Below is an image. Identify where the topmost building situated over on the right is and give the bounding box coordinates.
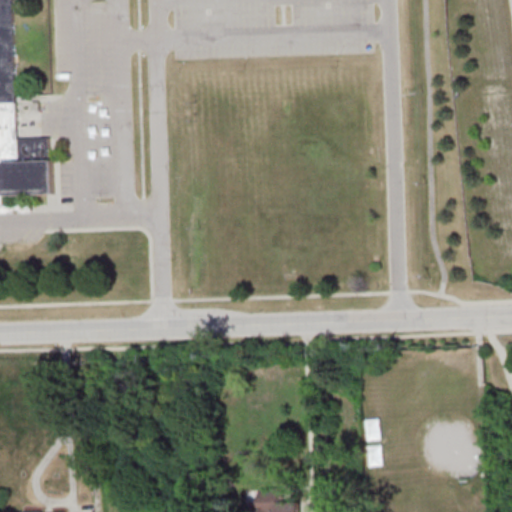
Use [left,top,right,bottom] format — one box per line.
[364,418,382,442]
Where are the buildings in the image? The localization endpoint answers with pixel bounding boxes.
[254,489,298,512]
[364,418,382,442]
[366,444,384,470]
[0,0,49,194]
